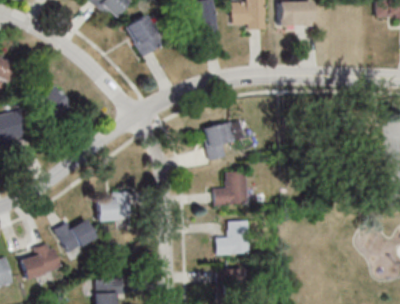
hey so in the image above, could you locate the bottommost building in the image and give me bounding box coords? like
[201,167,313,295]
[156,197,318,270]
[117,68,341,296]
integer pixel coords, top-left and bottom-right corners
[94,278,124,304]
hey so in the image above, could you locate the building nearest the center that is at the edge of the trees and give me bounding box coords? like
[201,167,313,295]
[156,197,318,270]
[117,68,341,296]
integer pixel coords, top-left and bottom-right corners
[204,122,236,159]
